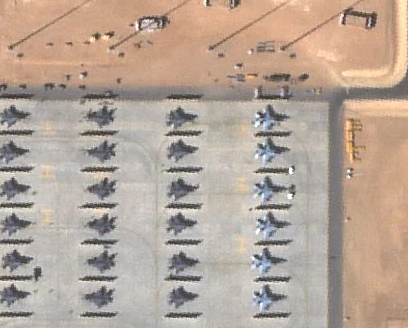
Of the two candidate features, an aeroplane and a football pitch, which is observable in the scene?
aeroplane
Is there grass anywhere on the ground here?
No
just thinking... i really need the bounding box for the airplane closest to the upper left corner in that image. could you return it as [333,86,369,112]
[0,109,26,126]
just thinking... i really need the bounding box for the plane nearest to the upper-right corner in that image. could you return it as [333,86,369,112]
[254,108,286,130]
